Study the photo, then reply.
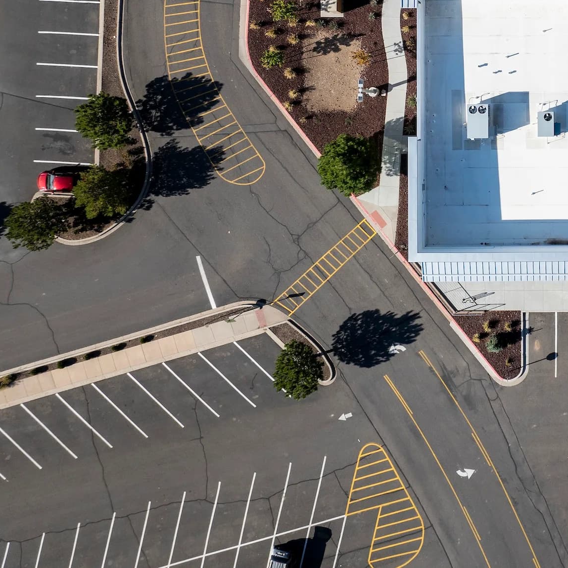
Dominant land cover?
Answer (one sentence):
Most of the picture is covered by paved ground.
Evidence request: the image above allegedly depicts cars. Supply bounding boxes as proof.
[41,168,93,195]
[265,544,296,568]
